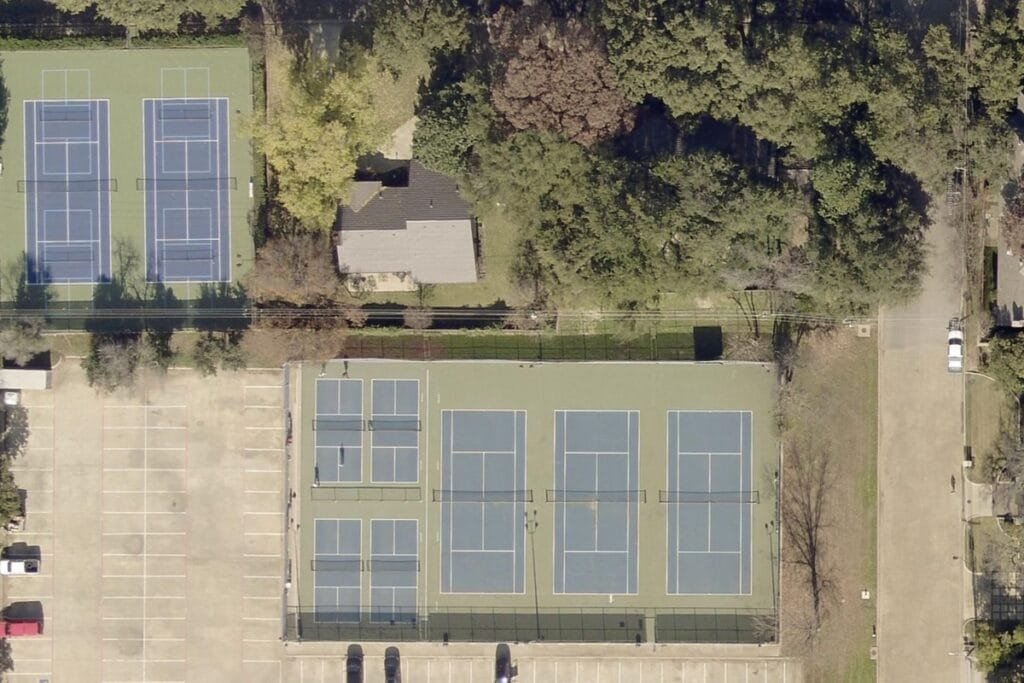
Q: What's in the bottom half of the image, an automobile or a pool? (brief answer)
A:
automobile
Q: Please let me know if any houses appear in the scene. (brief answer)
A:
Yes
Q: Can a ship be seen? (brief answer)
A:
No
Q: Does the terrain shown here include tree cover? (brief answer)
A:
Yes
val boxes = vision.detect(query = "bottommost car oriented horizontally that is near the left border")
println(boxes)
[3,619,42,637]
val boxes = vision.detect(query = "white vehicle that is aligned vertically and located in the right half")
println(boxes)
[947,330,966,373]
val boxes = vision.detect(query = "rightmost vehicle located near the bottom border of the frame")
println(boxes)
[494,653,518,683]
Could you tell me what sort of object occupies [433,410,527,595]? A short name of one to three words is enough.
tennis court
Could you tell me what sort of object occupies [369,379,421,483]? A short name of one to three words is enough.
sports court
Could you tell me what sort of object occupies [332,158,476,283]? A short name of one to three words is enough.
house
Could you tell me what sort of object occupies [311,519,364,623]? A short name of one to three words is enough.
sports court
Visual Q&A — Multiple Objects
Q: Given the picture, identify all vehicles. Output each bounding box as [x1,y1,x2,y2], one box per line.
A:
[384,654,401,683]
[947,330,966,373]
[3,619,42,637]
[494,653,518,683]
[345,654,363,683]
[0,558,41,576]
[3,390,16,407]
